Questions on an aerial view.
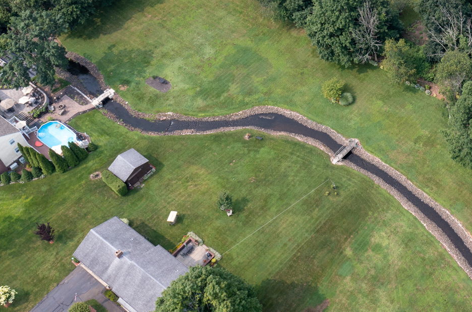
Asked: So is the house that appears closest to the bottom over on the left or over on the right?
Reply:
left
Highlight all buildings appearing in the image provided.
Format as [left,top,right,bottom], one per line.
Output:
[108,149,150,188]
[0,108,30,173]
[73,217,217,312]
